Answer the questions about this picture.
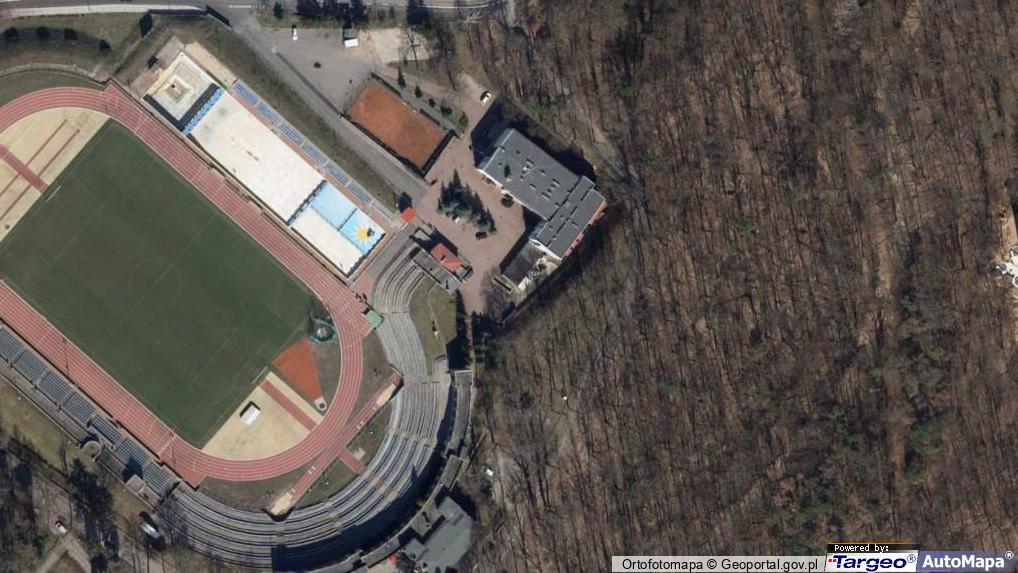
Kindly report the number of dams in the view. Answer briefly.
0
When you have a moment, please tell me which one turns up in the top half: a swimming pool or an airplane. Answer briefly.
swimming pool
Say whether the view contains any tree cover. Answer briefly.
Yes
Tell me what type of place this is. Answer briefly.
sports ground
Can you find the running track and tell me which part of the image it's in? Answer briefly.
left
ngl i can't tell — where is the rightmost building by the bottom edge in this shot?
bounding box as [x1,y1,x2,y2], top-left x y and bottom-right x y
[403,495,473,573]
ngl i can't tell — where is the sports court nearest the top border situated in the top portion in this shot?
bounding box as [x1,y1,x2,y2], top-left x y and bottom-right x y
[344,77,449,169]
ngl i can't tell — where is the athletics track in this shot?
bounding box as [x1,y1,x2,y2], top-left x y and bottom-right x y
[0,79,384,488]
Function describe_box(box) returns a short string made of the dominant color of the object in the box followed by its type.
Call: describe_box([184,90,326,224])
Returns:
white swimming pool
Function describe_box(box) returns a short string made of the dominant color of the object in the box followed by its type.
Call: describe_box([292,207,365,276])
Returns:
white swimming pool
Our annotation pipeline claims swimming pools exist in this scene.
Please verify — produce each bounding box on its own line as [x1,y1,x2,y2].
[338,208,386,255]
[292,207,365,276]
[310,183,357,230]
[143,52,218,128]
[184,90,326,224]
